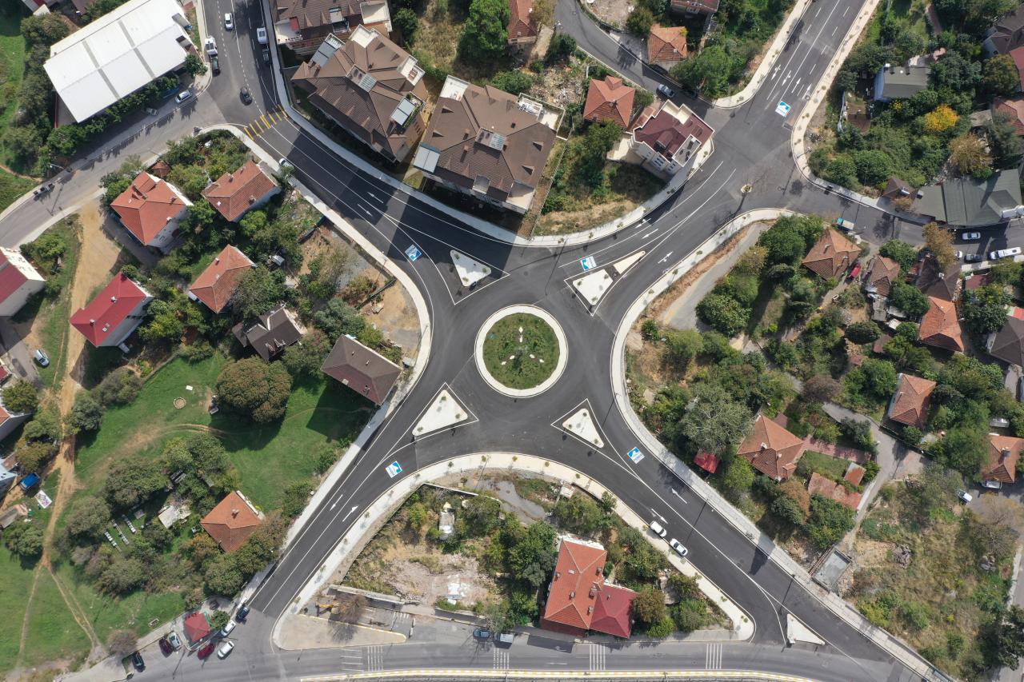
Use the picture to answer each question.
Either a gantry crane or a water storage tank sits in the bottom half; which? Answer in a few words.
water storage tank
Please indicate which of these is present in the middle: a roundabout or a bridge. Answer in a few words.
roundabout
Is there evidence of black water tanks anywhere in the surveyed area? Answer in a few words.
No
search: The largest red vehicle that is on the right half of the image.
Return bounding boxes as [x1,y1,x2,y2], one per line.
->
[848,262,863,280]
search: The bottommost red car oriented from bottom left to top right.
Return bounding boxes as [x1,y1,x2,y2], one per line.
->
[195,643,214,659]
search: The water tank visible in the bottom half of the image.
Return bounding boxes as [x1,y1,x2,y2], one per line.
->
[817,550,854,591]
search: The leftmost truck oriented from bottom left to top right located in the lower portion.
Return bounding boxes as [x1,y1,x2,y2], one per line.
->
[12,473,40,494]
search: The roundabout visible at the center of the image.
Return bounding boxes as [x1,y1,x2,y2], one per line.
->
[473,304,569,399]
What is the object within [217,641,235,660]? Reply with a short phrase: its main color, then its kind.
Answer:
white vehicle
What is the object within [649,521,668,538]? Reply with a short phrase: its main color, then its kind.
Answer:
white car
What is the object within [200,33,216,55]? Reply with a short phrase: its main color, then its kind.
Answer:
white vehicle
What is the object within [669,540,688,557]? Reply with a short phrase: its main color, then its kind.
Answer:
white car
